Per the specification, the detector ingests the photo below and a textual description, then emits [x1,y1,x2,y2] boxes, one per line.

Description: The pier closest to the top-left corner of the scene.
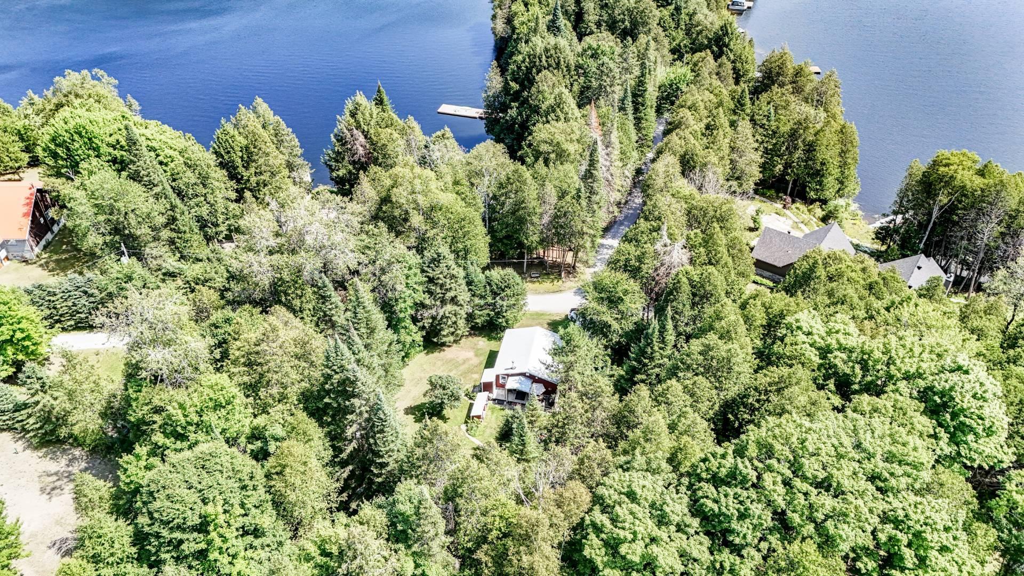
[438,104,483,120]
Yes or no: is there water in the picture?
Yes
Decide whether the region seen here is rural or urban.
rural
